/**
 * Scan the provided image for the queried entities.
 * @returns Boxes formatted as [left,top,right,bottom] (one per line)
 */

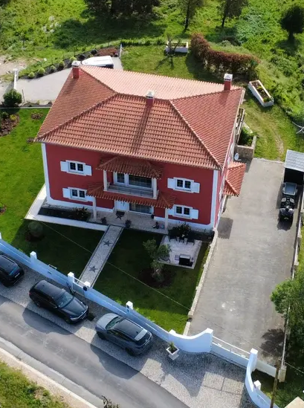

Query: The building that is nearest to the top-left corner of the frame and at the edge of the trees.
[32,63,248,237]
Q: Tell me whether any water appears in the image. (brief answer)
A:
No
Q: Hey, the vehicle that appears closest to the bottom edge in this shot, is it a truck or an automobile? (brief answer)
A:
automobile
